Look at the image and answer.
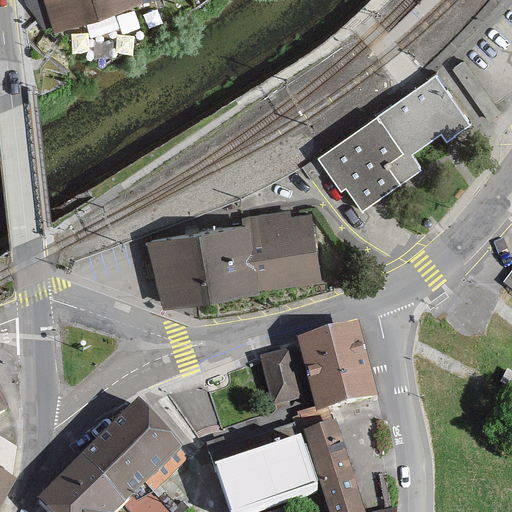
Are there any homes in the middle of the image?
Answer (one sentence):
Yes, a home appears in the middle of the image.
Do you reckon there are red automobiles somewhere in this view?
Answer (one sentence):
Yes, there's a red automobile down there.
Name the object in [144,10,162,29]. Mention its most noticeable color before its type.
white umbrella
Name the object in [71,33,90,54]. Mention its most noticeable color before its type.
white umbrella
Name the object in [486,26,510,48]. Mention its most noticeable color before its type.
white car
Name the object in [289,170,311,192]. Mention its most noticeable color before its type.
black car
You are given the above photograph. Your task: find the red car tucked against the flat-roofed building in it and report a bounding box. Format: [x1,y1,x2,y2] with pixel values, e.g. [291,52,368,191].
[324,180,342,201]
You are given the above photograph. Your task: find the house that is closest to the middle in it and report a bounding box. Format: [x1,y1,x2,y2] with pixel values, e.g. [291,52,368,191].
[146,206,322,310]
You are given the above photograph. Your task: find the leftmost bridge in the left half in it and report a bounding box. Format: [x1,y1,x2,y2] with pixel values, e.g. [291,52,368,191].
[0,92,52,248]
